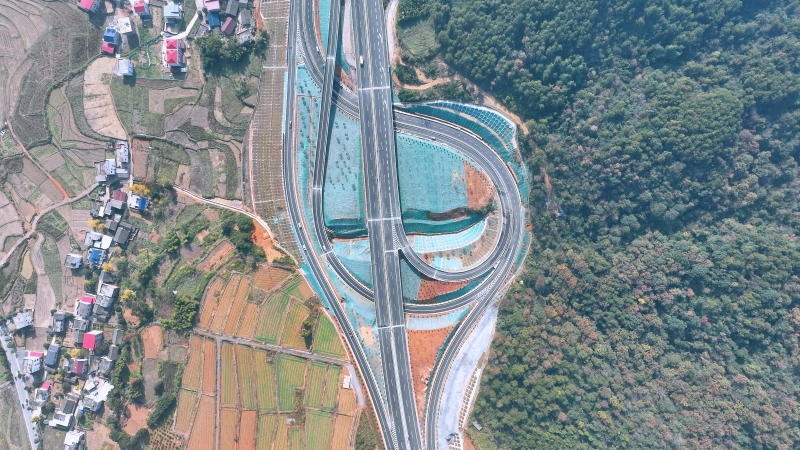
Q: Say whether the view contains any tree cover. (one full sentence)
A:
Yes, there is tree cover in the image.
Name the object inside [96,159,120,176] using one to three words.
house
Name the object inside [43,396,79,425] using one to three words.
house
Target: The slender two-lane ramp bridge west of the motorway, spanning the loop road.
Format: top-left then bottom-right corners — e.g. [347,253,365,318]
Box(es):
[313,0,341,252]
